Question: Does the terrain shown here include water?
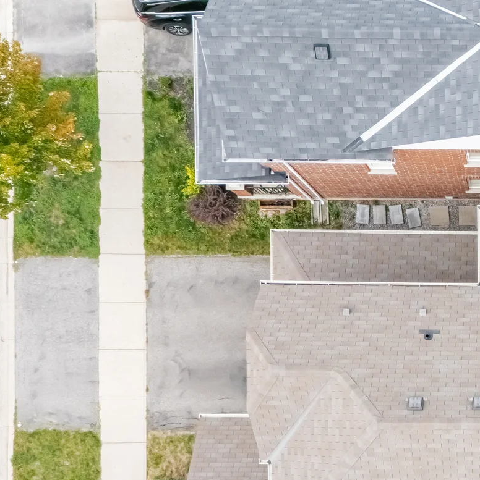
No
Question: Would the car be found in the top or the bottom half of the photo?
top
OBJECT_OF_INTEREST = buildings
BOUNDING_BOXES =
[187,205,480,480]
[195,0,480,208]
